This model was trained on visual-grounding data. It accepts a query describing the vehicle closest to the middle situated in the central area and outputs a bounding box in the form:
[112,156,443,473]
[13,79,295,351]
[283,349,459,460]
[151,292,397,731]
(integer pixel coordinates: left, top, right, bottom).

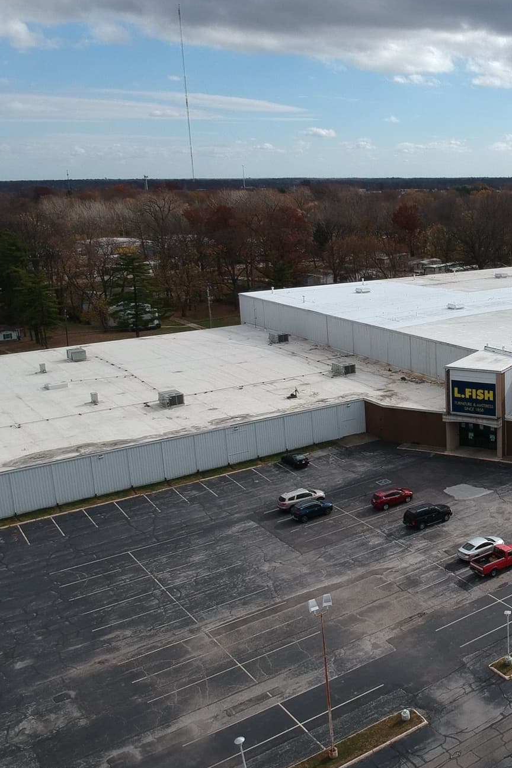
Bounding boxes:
[280,450,311,467]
